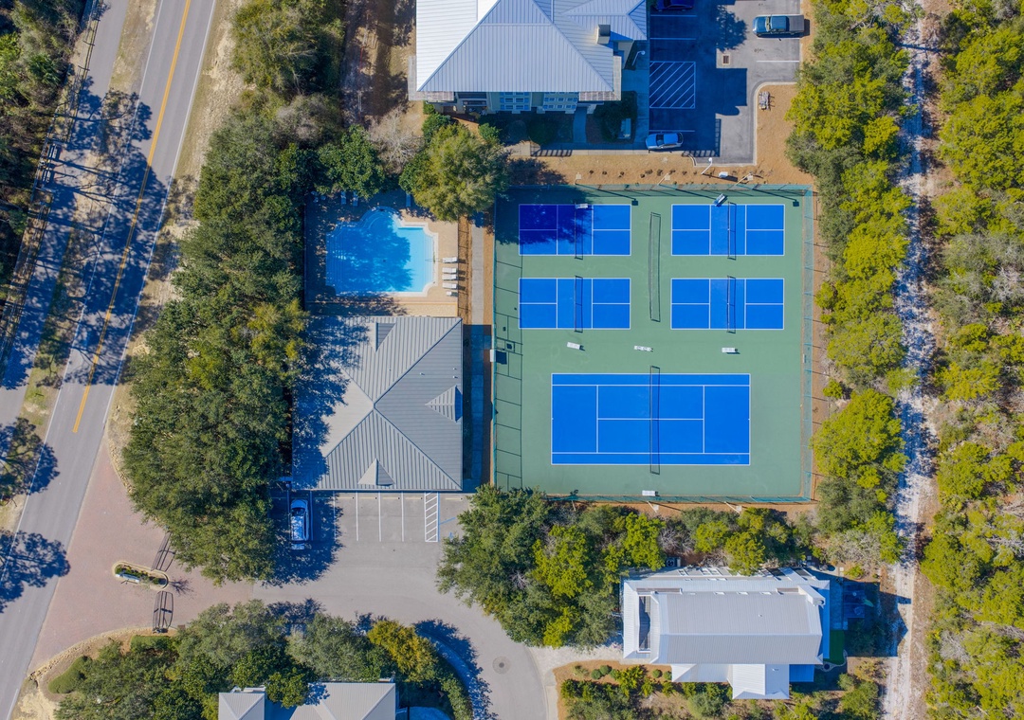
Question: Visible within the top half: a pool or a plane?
pool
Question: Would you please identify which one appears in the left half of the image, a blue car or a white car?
blue car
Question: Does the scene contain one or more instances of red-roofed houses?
No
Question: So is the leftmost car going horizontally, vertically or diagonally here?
vertically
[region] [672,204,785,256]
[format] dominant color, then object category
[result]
blue sports court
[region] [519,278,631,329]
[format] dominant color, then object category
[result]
blue sports court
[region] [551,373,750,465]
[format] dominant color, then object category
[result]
blue tennis court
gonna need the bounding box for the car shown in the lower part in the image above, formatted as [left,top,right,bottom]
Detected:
[287,500,307,547]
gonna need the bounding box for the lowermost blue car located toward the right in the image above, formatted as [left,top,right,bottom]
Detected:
[646,130,684,149]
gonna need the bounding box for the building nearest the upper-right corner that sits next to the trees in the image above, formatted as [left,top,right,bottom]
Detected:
[408,0,648,114]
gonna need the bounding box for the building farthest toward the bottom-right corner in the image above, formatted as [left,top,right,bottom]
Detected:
[621,572,830,700]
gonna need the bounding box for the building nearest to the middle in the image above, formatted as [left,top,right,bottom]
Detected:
[279,316,463,492]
